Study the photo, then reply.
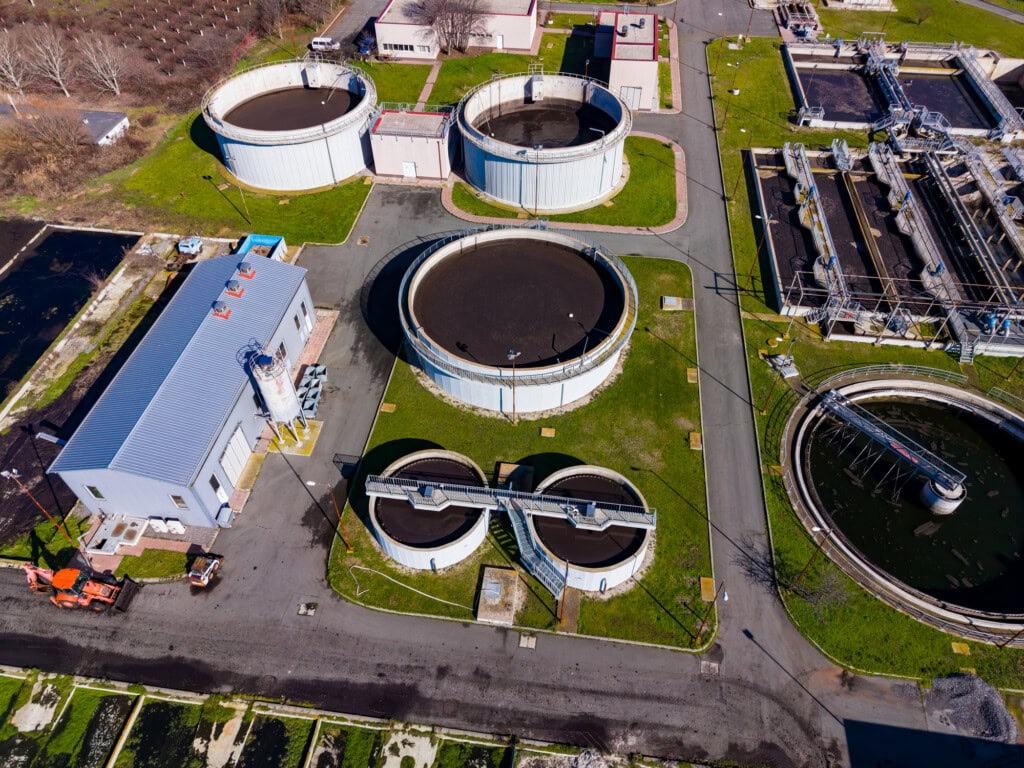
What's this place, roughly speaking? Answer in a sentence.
The area seen from above is an industrial area.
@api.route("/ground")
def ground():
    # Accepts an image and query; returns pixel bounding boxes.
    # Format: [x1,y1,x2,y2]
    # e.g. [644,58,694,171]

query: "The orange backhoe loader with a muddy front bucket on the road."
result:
[19,551,138,618]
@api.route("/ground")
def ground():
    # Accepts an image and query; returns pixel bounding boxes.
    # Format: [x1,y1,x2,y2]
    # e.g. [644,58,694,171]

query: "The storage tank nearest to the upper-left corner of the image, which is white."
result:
[200,48,375,189]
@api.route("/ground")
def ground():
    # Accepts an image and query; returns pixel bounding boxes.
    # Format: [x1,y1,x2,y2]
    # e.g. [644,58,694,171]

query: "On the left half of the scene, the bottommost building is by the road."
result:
[50,249,313,527]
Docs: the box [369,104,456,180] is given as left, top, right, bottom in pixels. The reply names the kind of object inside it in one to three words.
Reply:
building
